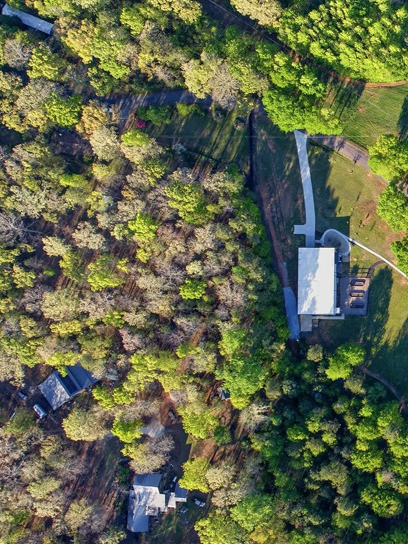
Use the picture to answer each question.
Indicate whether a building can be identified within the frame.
Yes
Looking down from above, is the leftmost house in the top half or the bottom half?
top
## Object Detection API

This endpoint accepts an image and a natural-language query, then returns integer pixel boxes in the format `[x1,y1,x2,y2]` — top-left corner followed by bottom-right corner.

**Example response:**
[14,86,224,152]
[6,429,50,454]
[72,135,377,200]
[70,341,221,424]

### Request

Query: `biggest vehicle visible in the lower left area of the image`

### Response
[31,404,46,418]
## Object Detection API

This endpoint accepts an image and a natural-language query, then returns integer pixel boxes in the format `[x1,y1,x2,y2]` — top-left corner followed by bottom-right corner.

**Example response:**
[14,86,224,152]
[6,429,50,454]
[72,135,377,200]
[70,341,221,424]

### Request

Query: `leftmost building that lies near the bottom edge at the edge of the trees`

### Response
[127,474,165,532]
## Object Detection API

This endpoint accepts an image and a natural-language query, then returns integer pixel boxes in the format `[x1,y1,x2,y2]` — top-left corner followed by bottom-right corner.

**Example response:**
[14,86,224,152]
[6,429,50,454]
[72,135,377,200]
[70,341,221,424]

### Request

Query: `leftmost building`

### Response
[2,4,57,37]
